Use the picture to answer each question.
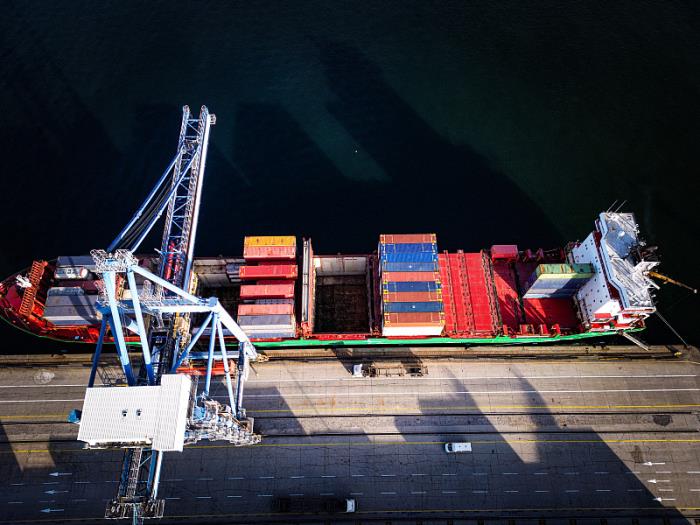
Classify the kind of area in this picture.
port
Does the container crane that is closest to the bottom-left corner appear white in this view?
Yes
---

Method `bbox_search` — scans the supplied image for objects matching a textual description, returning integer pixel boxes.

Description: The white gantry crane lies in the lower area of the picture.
[67,105,269,525]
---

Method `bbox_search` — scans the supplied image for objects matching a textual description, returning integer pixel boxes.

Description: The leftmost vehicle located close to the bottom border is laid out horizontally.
[279,498,357,514]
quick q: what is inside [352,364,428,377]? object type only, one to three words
vehicle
